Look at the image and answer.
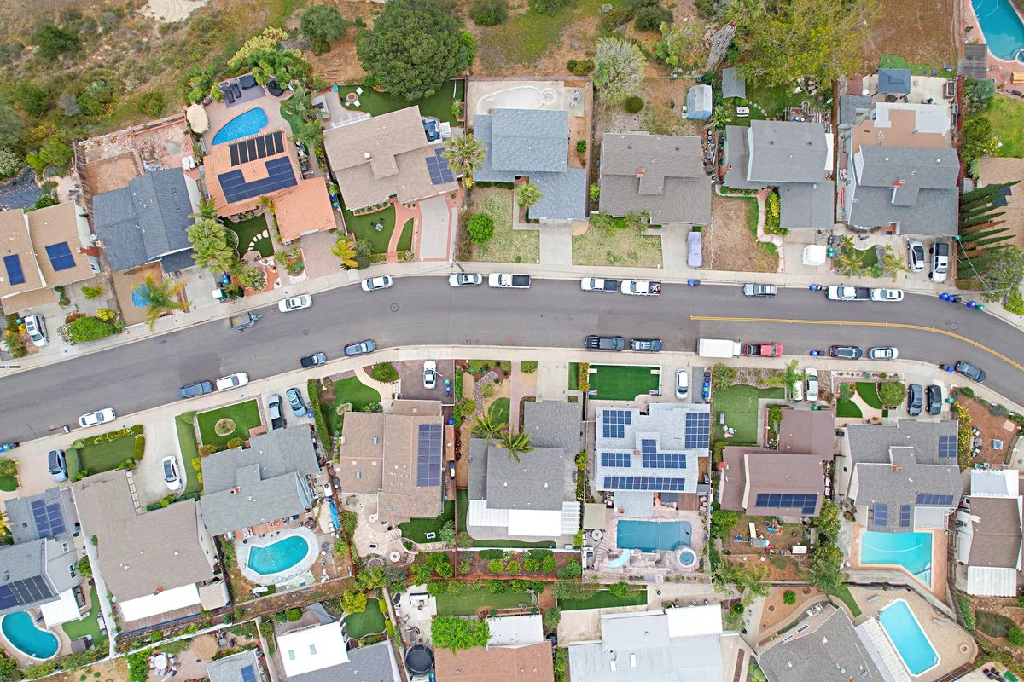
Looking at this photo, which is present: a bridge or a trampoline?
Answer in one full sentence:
The one in the frame is a trampoline.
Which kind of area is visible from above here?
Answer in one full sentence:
What you see here is a residential area.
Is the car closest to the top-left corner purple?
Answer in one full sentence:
No, the car closest to the top-left corner is white.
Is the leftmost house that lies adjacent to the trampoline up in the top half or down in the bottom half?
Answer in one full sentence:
Seen from above, the leftmost house that lies adjacent to the trampoline lies in the bottom half of the view.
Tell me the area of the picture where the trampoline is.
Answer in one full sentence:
The trampoline appears toward the bottom of the photo.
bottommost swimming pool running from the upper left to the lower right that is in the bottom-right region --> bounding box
[878,599,941,677]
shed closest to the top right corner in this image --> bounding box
[954,44,988,83]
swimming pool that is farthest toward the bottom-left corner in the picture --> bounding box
[0,609,61,662]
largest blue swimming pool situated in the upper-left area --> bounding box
[211,105,269,148]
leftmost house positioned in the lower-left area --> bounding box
[0,485,91,629]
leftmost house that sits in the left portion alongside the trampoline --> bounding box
[277,615,405,682]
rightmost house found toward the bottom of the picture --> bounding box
[947,467,1024,597]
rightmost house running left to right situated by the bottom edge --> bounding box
[749,603,913,682]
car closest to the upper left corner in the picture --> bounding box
[25,312,50,346]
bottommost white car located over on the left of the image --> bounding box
[162,454,185,491]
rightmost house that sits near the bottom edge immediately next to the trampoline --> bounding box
[435,609,555,682]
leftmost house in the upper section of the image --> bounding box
[0,201,105,316]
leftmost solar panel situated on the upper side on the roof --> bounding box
[4,254,24,284]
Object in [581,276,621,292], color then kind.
white vehicle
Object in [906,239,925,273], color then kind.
white car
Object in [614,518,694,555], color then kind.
blue swimming pool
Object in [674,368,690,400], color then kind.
white car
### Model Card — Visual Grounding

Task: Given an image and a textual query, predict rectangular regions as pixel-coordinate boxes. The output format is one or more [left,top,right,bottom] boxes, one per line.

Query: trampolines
[402,644,434,681]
